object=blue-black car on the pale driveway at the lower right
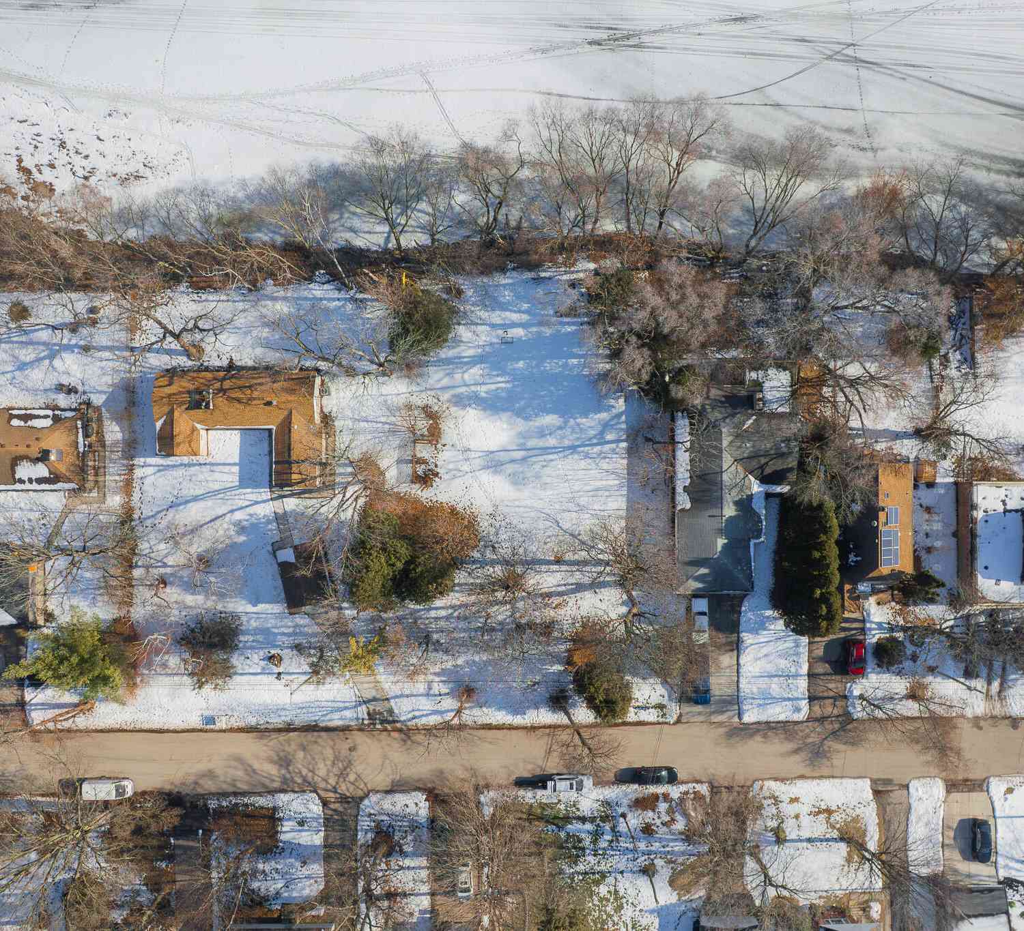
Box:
[966,818,989,861]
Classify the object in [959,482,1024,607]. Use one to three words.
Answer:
house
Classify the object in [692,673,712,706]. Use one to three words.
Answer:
car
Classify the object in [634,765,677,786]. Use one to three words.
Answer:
car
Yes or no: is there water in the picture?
Yes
